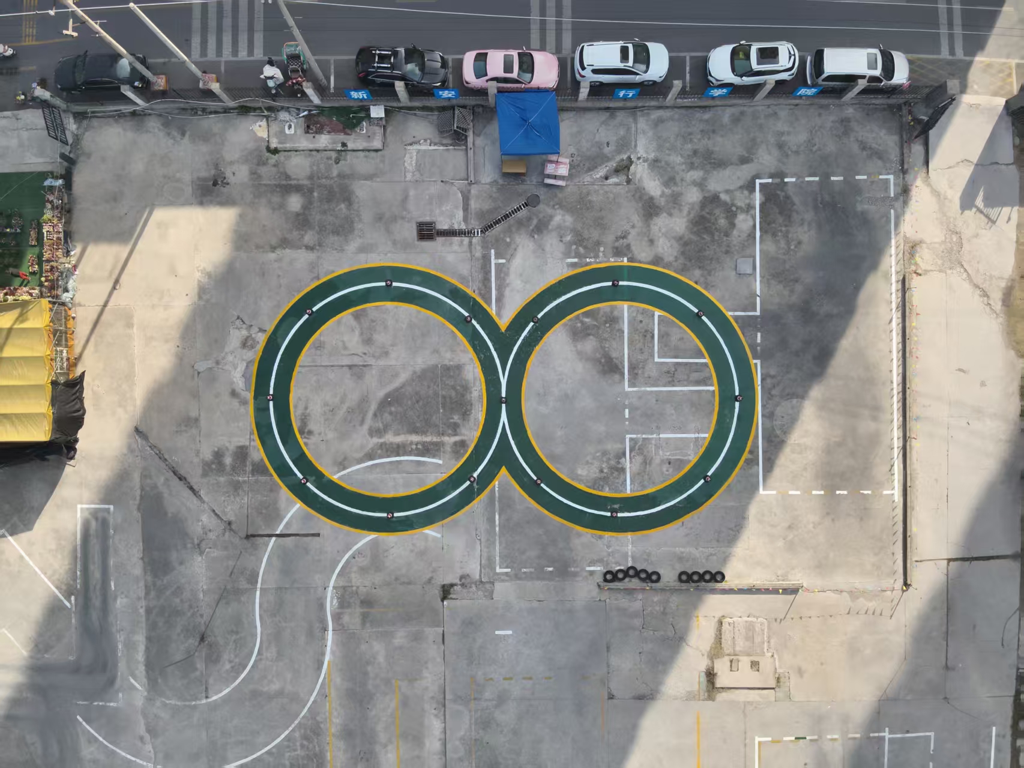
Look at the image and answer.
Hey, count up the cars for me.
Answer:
6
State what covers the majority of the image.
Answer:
paved ground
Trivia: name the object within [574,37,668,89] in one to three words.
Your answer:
car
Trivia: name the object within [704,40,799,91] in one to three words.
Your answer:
car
